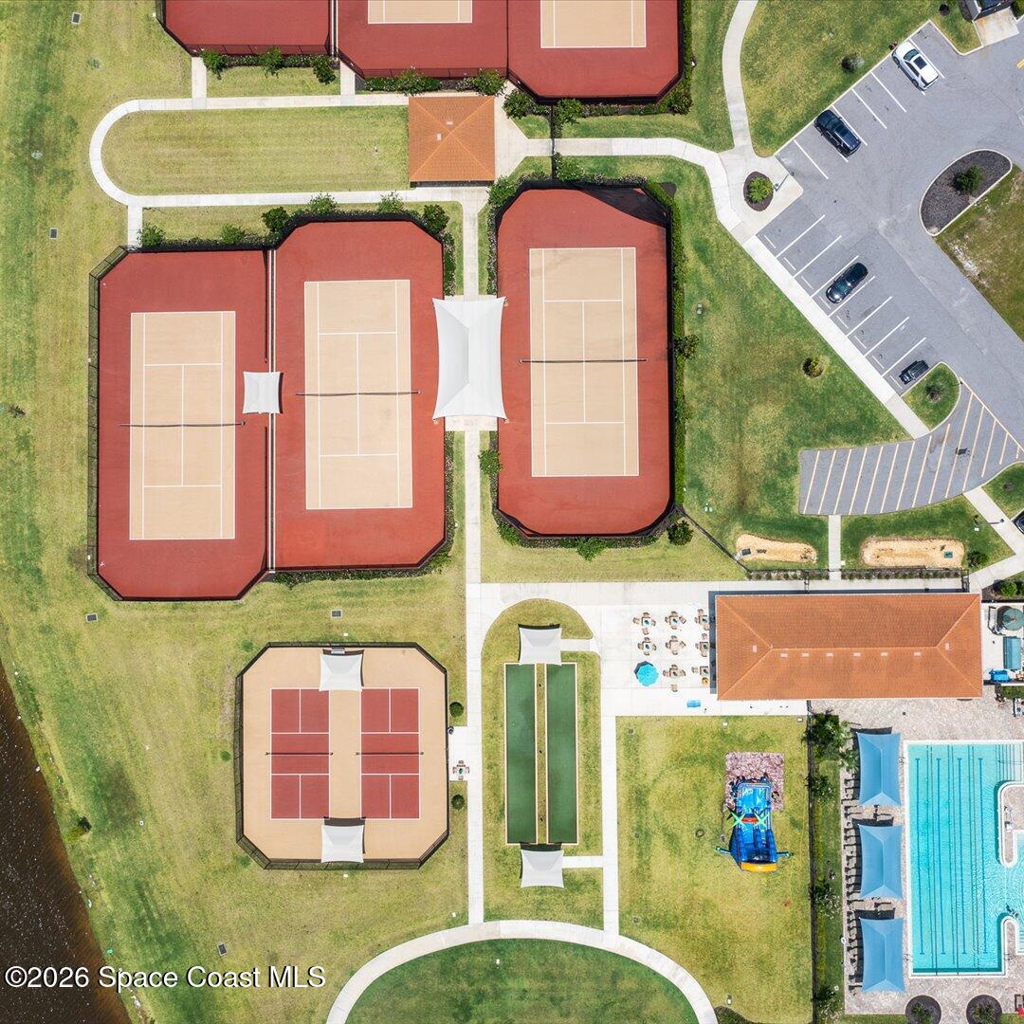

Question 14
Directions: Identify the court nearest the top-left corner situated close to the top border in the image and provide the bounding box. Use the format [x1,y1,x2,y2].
[165,0,329,55]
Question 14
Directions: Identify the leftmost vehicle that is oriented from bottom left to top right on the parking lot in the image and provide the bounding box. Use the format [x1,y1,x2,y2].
[824,262,870,304]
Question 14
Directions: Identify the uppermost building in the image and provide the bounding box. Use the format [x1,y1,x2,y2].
[407,95,496,187]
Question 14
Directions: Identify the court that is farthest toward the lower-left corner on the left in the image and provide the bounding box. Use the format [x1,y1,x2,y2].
[264,688,334,820]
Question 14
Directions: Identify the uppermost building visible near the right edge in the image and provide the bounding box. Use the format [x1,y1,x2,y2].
[713,593,984,701]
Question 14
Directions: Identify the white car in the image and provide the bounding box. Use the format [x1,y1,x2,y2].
[893,42,938,89]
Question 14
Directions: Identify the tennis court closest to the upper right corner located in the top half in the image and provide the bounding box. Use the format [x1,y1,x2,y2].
[509,0,681,94]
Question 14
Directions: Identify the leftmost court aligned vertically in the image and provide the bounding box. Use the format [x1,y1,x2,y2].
[97,250,268,599]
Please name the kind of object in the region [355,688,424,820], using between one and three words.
sports court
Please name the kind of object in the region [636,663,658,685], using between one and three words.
umbrella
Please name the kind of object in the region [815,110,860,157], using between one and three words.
car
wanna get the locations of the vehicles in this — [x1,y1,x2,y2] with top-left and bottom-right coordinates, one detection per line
[1016,513,1024,532]
[901,356,934,382]
[824,262,870,304]
[893,42,938,89]
[815,110,860,157]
